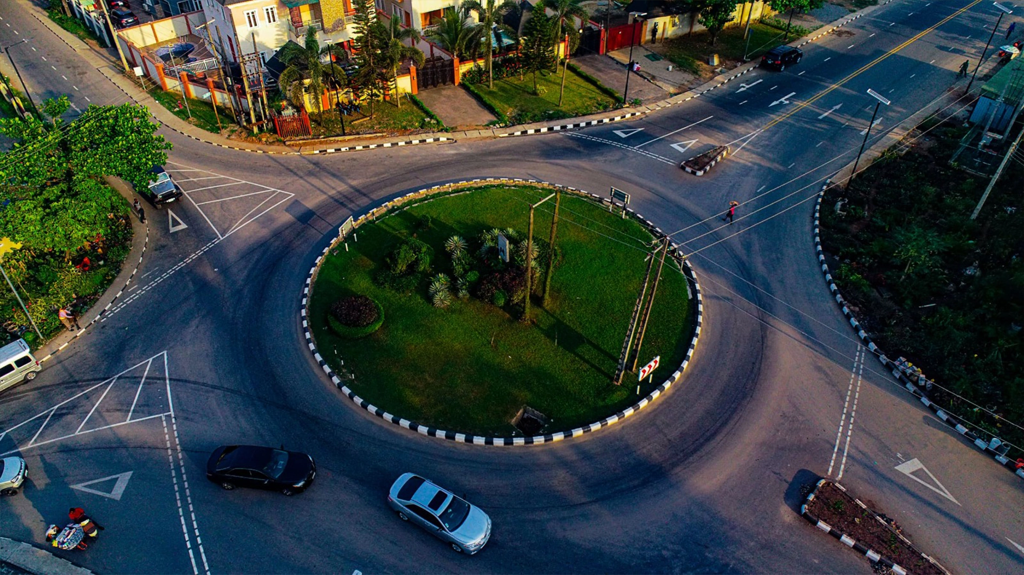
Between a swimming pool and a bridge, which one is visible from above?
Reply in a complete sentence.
The one in the frame is a swimming pool.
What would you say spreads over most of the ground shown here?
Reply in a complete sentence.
The largest share of the image is taken up by paved ground.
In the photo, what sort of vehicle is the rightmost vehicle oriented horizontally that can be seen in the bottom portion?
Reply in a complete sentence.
The rightmost vehicle oriented horizontally that can be seen in the bottom portion is a car.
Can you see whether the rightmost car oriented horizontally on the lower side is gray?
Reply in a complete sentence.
No, the rightmost car oriented horizontally on the lower side is black.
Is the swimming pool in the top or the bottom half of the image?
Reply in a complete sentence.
You can find the swimming pool in the top half.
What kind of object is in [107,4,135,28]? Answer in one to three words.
car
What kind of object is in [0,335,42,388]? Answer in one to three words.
van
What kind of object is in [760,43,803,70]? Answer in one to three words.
car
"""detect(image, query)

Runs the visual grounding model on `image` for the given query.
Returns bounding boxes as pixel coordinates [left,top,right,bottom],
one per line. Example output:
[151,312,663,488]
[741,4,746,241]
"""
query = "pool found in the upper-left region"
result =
[143,34,220,82]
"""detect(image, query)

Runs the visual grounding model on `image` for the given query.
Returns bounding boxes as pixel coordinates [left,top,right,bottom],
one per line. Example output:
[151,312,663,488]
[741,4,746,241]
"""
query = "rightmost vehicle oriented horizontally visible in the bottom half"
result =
[202,443,320,496]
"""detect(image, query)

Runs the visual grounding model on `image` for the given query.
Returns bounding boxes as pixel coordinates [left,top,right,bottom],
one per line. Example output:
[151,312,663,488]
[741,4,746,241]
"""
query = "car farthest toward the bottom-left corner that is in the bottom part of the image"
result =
[0,443,35,494]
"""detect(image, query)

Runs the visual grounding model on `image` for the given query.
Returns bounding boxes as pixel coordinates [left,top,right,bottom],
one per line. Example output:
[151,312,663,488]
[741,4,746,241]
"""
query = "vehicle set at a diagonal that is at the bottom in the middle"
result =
[387,470,498,558]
